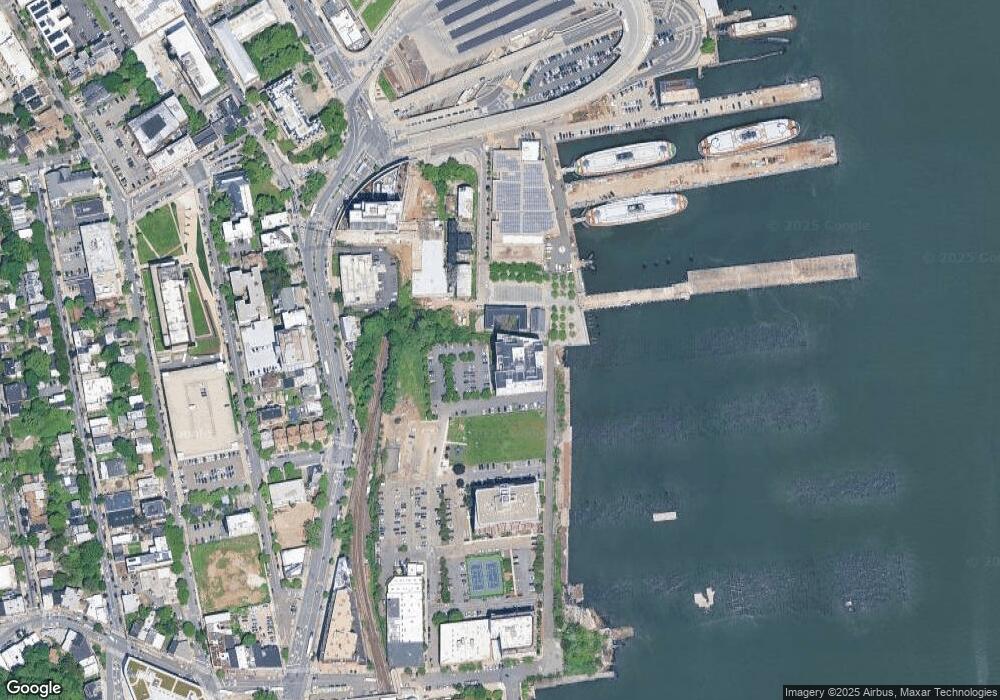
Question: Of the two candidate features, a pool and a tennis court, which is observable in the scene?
tennis court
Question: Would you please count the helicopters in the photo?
none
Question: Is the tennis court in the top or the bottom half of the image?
bottom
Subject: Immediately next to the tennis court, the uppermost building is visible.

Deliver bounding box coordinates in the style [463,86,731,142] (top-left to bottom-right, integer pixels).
[474,482,538,535]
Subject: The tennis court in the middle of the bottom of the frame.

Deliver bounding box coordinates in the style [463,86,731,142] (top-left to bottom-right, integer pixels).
[466,555,503,597]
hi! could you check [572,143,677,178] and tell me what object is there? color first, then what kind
white ship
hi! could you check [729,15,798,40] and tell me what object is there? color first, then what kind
white ship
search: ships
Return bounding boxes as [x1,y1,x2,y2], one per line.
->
[572,143,677,178]
[697,124,801,160]
[583,195,689,232]
[653,513,677,522]
[729,15,798,40]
